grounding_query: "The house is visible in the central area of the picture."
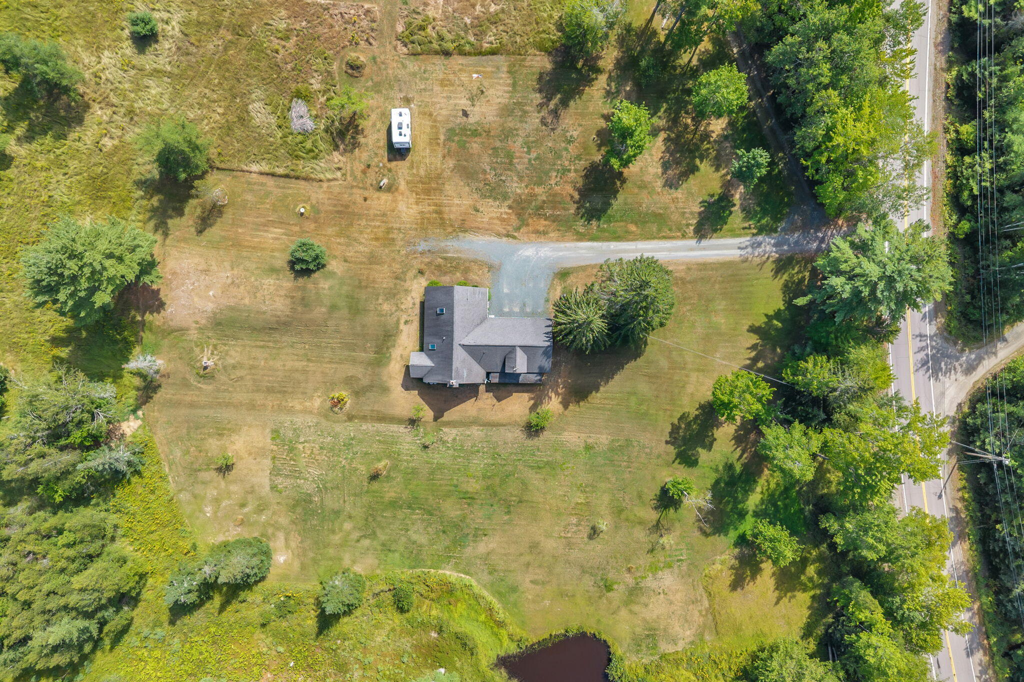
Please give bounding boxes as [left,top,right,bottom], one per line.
[410,285,553,387]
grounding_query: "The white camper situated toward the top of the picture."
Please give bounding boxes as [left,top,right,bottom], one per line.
[392,109,412,156]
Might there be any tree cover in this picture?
Yes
